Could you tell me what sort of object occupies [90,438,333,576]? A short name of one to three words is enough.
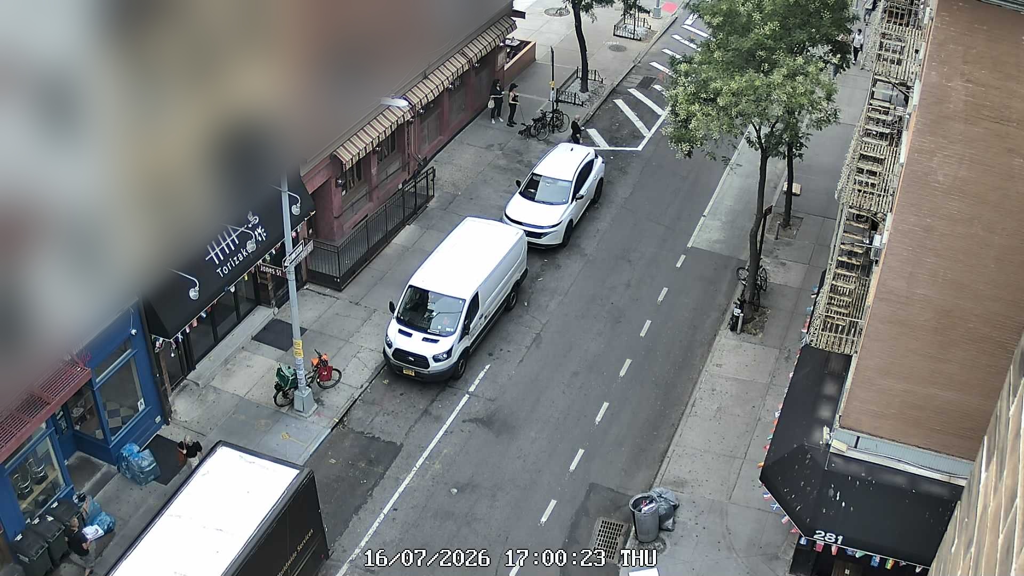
truck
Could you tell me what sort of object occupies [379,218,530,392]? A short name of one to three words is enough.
van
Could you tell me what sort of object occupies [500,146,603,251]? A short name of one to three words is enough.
car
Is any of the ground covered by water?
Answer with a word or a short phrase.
No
